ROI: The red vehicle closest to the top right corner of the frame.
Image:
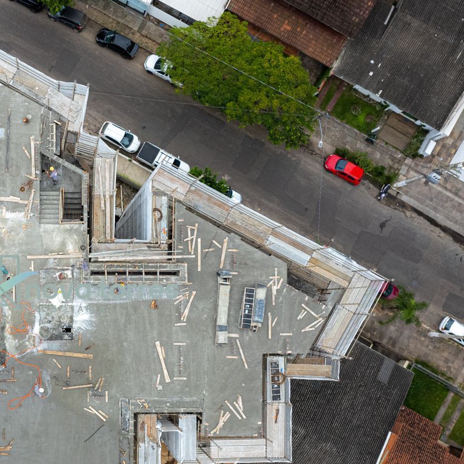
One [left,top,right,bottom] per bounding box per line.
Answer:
[324,152,370,186]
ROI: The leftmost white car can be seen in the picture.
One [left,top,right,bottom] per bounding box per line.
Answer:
[96,117,142,153]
